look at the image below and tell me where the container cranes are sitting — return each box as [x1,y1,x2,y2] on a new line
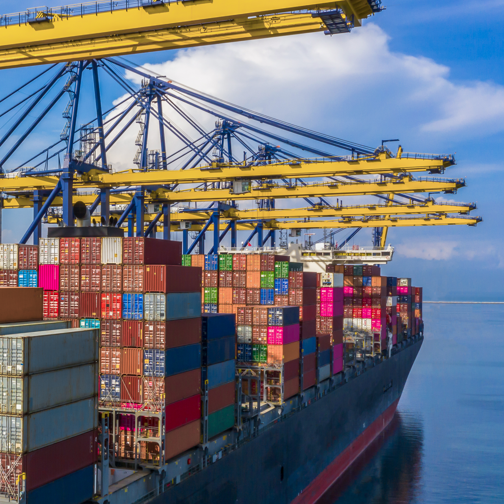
[309,148,410,277]
[0,54,459,245]
[0,0,381,69]
[41,112,481,345]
